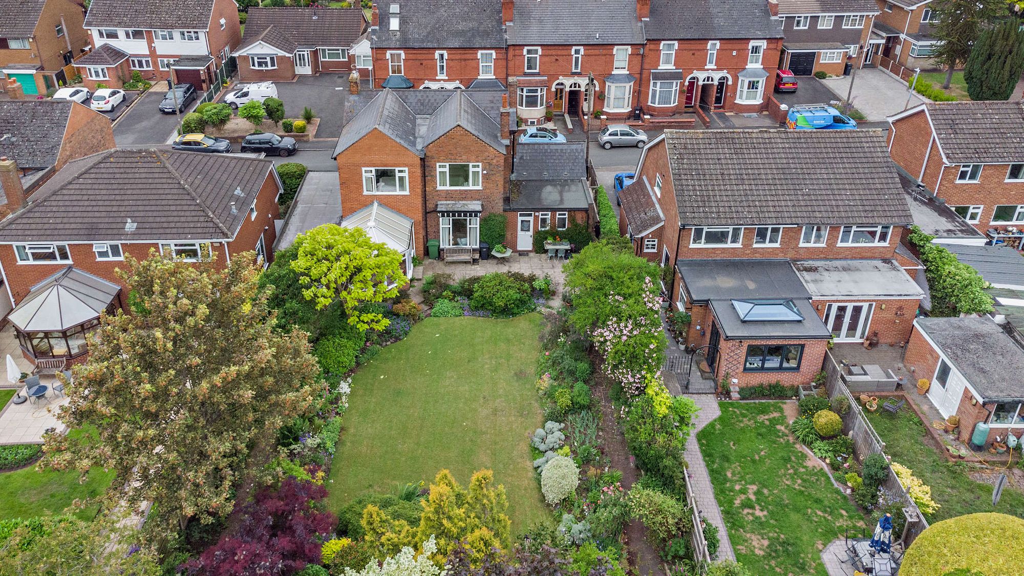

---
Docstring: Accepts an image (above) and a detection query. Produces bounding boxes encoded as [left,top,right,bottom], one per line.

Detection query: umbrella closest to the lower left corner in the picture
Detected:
[0,355,26,405]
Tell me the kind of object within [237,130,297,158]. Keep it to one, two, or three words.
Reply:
car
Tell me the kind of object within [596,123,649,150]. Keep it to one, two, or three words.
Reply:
car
